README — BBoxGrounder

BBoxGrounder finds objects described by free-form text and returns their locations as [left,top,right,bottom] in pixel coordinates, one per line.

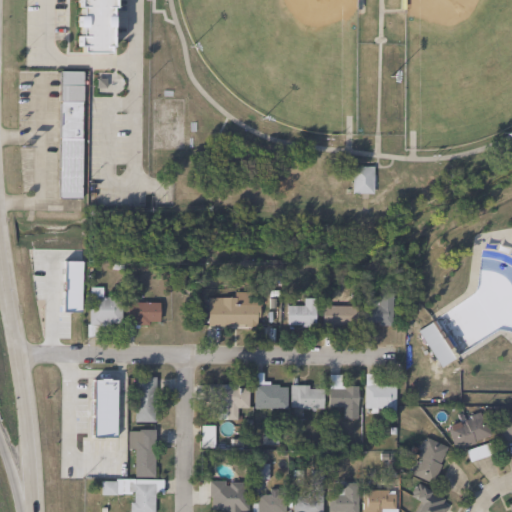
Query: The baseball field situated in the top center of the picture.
[180,0,359,134]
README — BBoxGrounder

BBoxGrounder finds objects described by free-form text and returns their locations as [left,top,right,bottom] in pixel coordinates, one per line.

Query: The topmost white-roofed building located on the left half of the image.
[76,0,121,54]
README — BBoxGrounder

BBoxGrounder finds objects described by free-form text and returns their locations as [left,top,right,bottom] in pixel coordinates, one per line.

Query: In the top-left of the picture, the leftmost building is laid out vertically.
[61,72,86,198]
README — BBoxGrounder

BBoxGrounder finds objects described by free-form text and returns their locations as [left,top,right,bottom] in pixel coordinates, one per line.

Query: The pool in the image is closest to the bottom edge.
[216,464,235,480]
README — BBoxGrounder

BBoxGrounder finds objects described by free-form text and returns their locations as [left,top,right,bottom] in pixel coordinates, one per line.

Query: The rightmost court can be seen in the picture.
[152,96,186,154]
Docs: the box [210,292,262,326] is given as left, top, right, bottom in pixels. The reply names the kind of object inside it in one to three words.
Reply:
house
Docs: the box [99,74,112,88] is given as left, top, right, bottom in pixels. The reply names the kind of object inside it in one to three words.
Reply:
gazebo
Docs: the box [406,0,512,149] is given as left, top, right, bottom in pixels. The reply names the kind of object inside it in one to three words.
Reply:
baseball field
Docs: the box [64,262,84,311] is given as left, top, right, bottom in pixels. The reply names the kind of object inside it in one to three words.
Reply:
building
